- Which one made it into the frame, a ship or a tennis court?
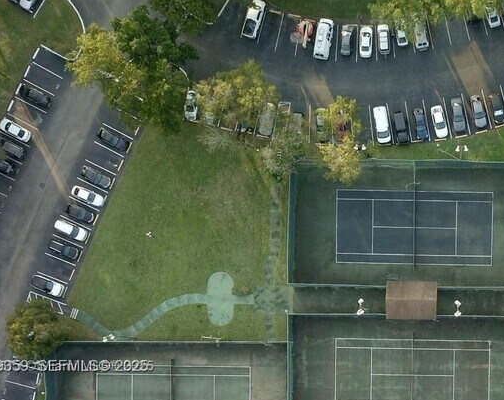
tennis court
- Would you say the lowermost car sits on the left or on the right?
left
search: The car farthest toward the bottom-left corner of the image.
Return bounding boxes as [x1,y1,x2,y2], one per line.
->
[32,276,65,296]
